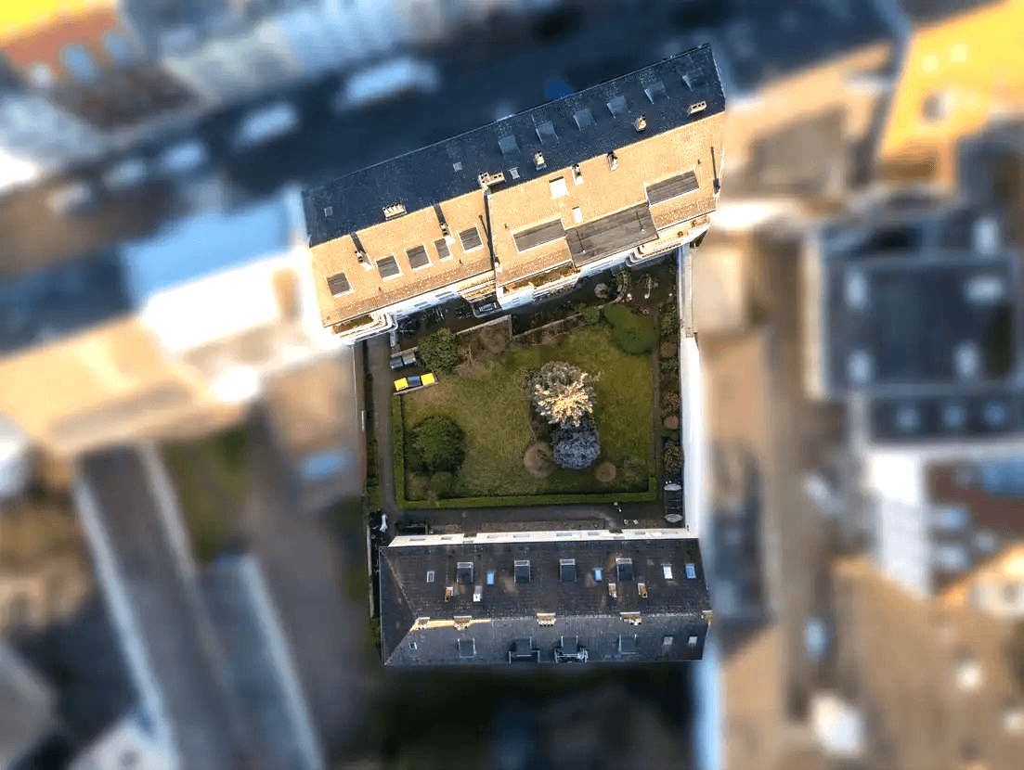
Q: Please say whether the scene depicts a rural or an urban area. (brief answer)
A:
urban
